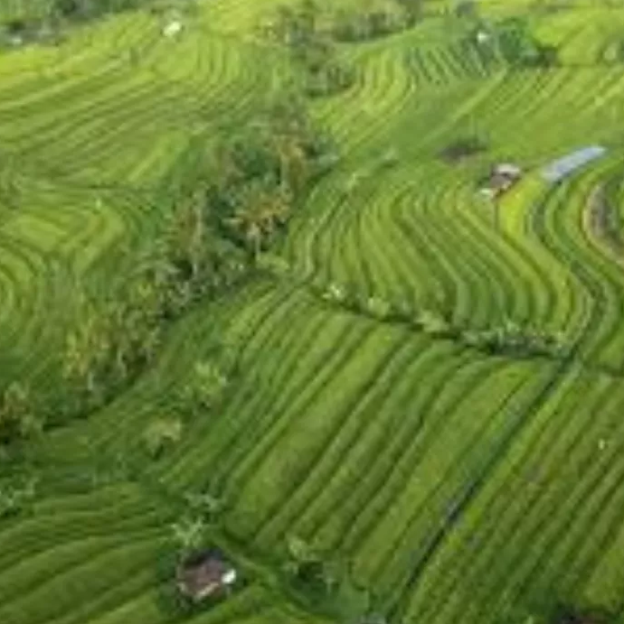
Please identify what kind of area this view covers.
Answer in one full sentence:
This image shows farmland.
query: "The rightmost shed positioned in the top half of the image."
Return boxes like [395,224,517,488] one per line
[542,147,609,182]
